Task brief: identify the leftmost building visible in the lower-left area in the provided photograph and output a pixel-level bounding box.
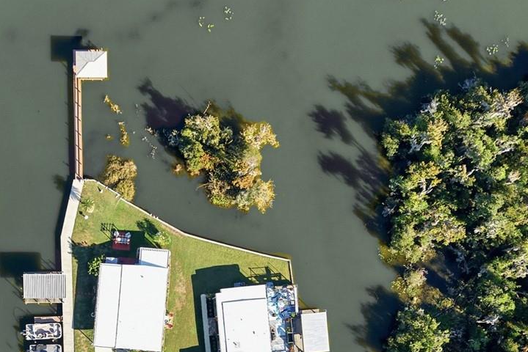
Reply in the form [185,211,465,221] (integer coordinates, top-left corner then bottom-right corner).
[23,274,65,304]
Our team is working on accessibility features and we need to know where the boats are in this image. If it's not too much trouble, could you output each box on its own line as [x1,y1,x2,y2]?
[29,345,63,352]
[22,323,63,339]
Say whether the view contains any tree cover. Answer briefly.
Yes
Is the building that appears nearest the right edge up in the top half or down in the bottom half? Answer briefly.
bottom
